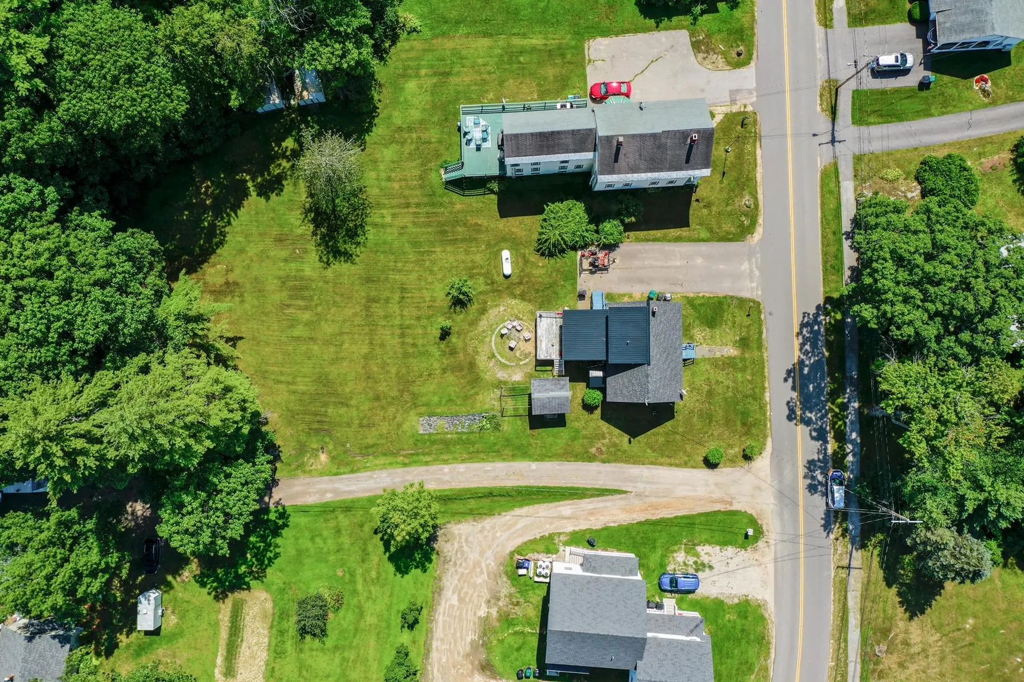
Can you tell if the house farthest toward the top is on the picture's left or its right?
right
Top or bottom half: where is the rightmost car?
top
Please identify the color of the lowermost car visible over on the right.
blue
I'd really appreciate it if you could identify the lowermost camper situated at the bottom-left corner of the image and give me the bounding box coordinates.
[137,576,166,630]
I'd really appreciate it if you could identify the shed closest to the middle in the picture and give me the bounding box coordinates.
[530,377,571,420]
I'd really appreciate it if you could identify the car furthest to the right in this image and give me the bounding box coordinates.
[868,53,912,76]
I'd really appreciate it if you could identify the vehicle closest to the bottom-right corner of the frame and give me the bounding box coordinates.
[824,468,847,510]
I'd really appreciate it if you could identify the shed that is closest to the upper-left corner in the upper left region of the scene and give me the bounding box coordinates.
[259,83,290,115]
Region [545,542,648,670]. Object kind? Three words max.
house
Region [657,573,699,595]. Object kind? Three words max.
car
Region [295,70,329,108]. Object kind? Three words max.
shed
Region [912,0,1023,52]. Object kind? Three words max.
house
